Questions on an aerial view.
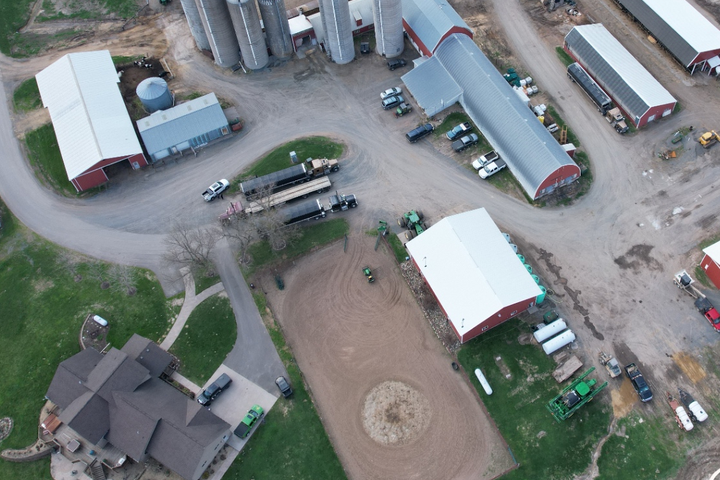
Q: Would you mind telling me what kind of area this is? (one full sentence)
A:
This image shows an industrial area.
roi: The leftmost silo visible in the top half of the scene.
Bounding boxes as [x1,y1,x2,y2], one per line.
[131,77,171,115]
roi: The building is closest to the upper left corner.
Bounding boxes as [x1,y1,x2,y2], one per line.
[36,51,149,190]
